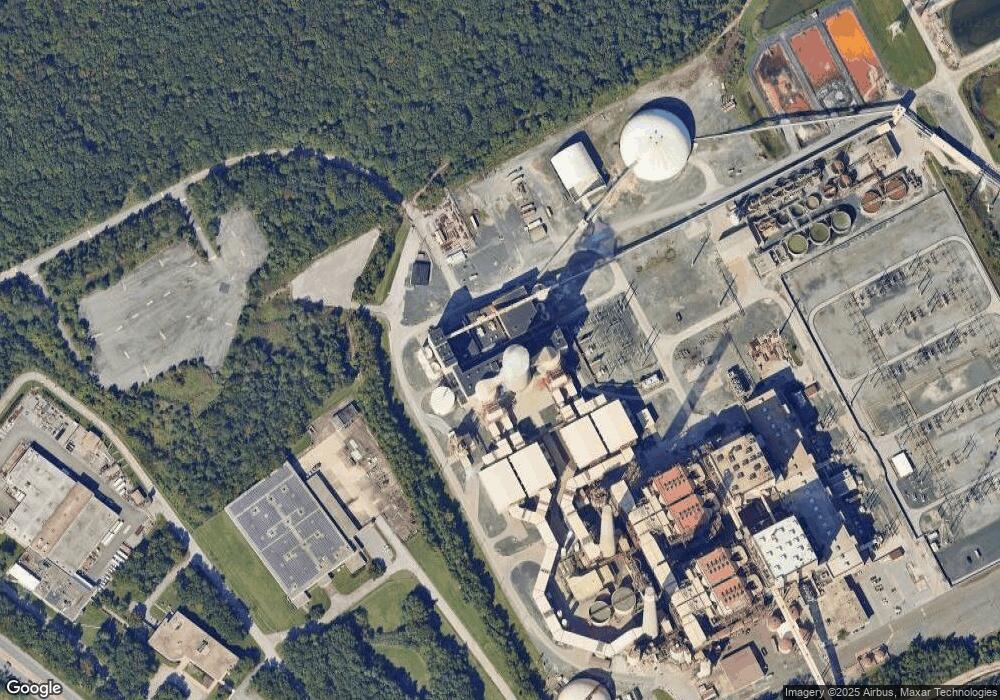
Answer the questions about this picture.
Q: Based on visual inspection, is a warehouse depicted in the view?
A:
Yes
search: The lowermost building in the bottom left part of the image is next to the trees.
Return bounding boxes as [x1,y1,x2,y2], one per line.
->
[149,611,239,692]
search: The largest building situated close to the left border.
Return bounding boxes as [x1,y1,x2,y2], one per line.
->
[3,447,120,573]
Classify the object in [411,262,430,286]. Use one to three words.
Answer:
shed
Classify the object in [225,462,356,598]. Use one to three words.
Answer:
warehouse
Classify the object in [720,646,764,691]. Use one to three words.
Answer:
building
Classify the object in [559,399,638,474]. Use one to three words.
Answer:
house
